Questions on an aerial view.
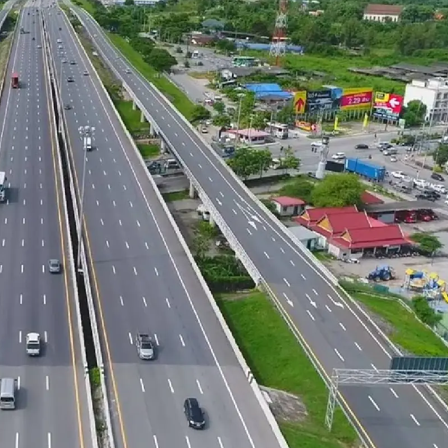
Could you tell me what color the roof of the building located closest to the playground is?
red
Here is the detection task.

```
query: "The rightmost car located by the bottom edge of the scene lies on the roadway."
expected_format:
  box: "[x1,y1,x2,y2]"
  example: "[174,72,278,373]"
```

[181,392,203,426]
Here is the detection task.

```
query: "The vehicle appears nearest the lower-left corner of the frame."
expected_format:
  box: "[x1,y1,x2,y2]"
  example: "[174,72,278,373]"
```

[0,377,18,406]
